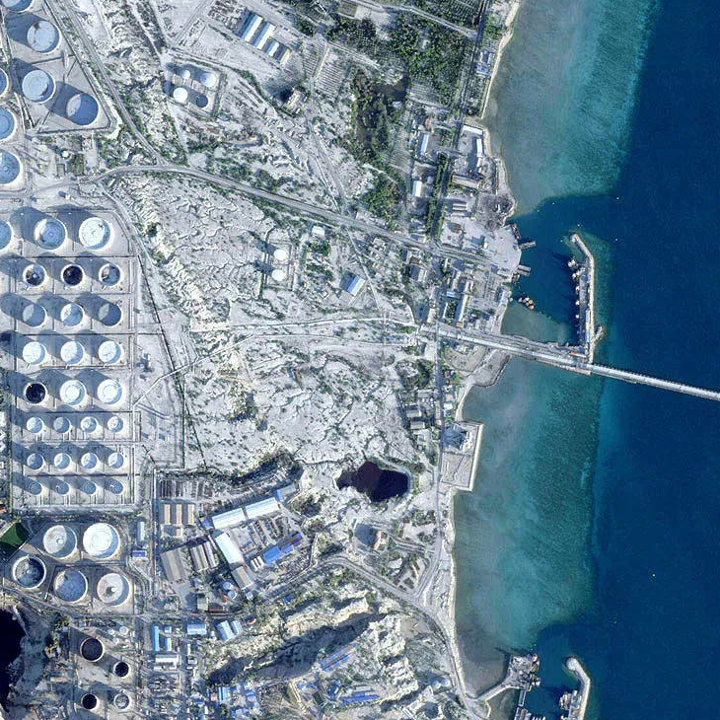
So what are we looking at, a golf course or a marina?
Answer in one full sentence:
The picture captures a marina.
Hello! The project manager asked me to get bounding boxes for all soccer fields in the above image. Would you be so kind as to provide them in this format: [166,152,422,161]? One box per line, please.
[0,522,30,556]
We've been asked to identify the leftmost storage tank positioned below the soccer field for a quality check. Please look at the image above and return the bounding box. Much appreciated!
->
[12,556,46,593]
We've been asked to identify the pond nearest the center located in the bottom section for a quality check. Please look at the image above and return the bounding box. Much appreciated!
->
[336,461,409,503]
